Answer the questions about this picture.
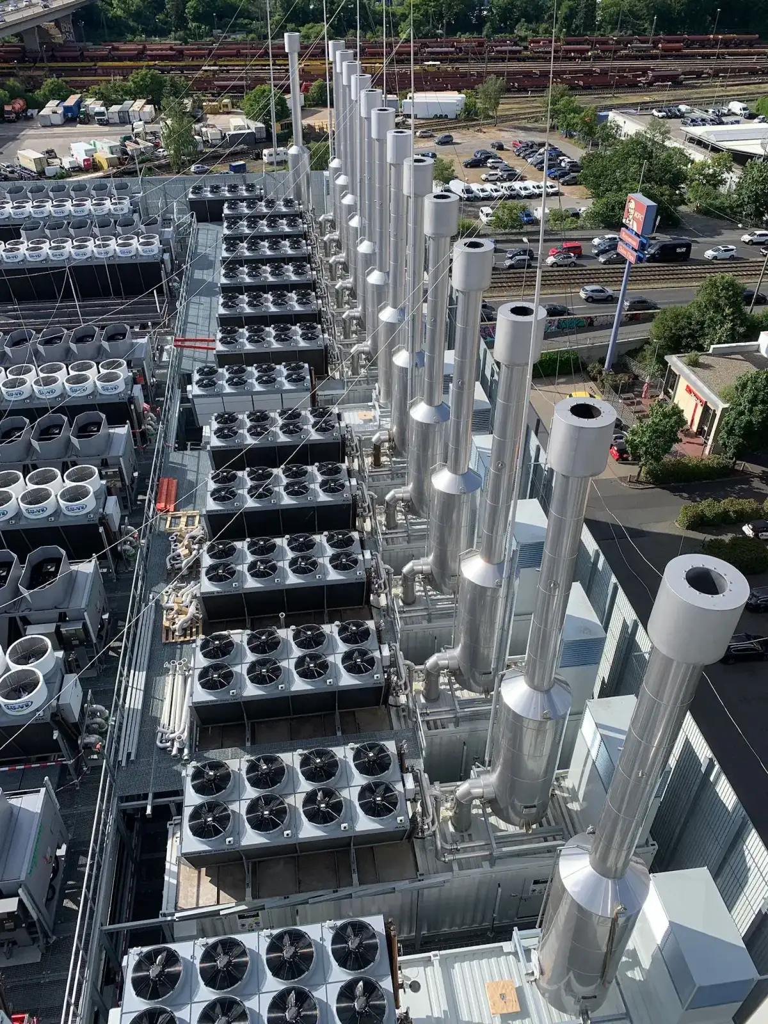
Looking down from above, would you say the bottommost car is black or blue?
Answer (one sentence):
In this view, the bottommost car is black.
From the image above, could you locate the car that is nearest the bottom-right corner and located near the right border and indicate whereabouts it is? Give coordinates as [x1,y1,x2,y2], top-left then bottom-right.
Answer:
[728,628,768,663]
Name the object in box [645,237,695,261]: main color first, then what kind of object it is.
black vehicle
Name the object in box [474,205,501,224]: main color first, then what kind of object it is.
white vehicle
